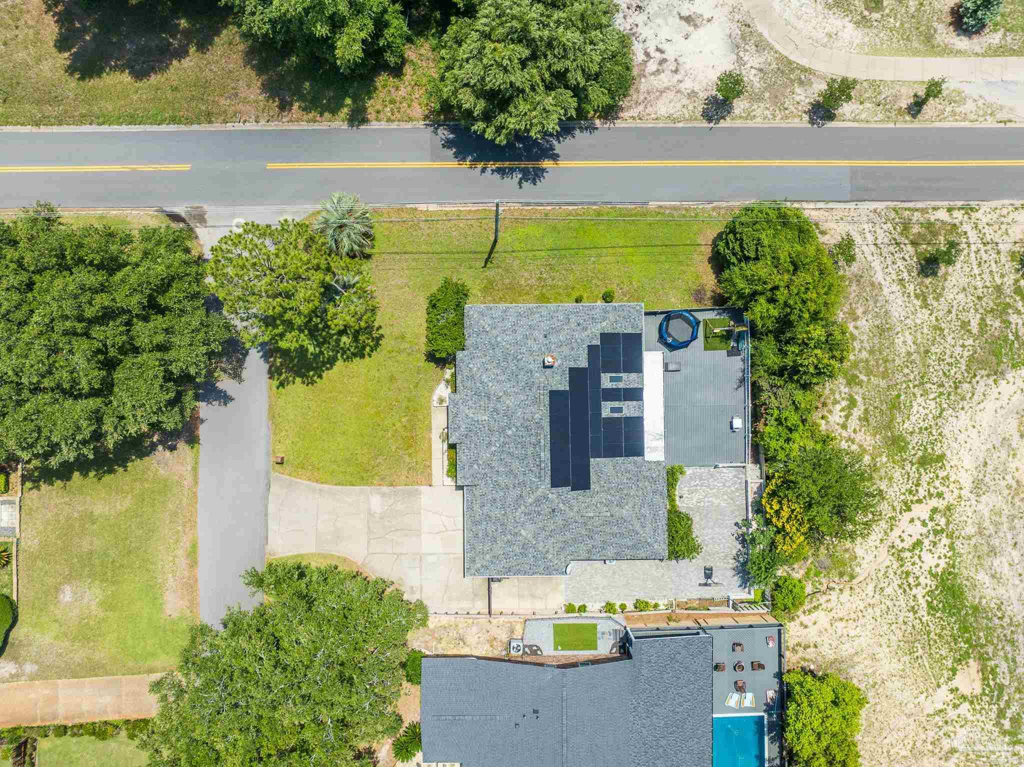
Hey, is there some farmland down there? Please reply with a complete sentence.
No, the scene doesn't show any farmland.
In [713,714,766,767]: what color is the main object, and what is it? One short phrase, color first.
blue swimming pool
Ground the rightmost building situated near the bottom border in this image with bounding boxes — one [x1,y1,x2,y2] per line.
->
[418,633,713,767]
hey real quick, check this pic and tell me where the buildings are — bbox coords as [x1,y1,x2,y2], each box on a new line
[418,633,713,767]
[449,303,668,577]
